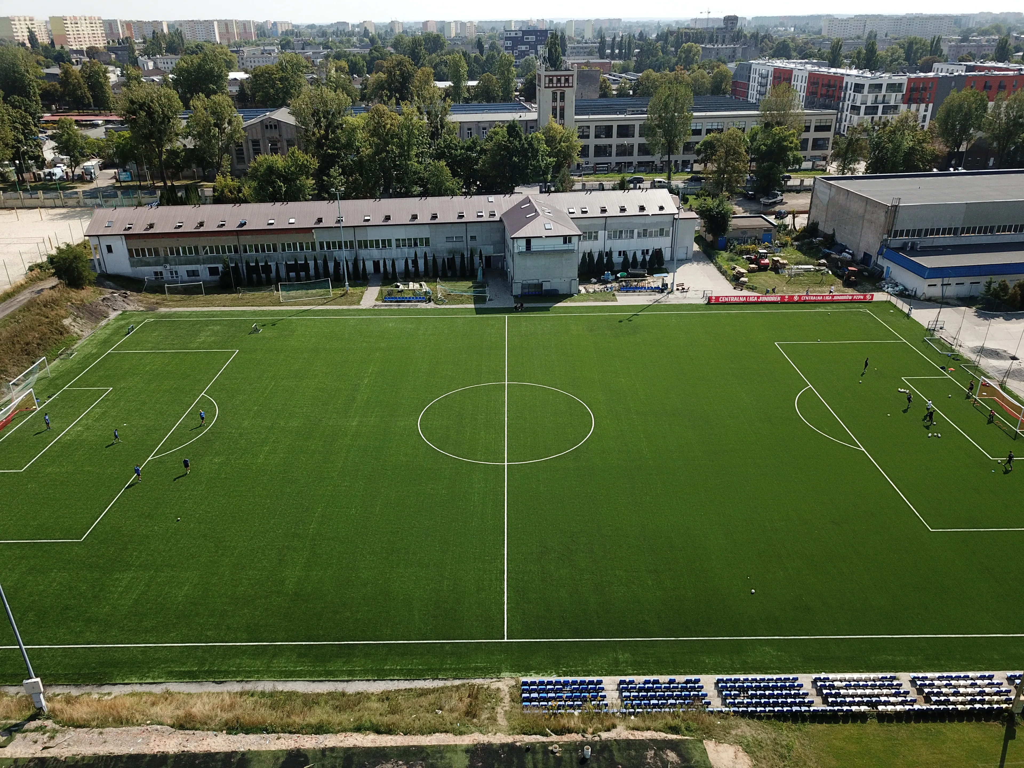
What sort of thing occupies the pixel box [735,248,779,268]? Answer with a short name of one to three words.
work vehicle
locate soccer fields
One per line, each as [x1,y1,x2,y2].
[0,301,1024,684]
